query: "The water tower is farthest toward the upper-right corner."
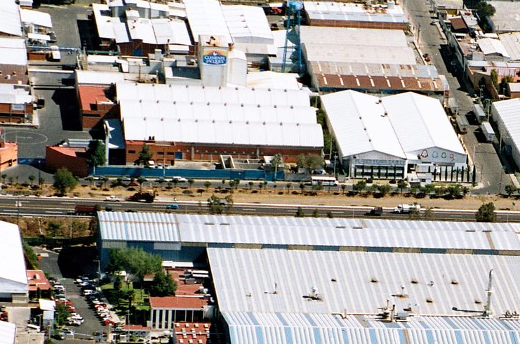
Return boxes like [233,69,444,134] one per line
[282,0,304,74]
